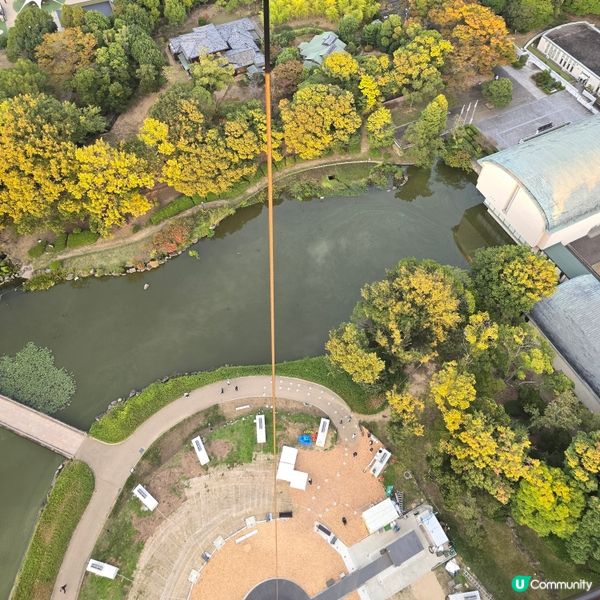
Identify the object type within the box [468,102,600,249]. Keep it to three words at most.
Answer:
building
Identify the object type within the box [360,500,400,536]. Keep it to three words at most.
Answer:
tent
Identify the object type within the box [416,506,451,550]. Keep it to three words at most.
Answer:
building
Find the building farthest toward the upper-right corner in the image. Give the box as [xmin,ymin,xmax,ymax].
[537,22,600,92]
